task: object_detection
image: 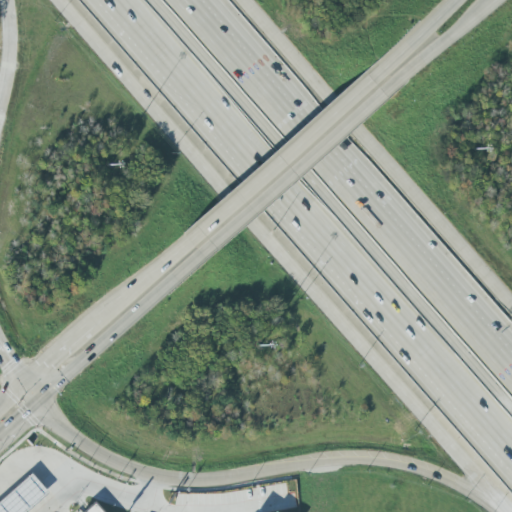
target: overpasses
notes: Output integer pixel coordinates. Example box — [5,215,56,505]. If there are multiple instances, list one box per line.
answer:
[188,60,402,257]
